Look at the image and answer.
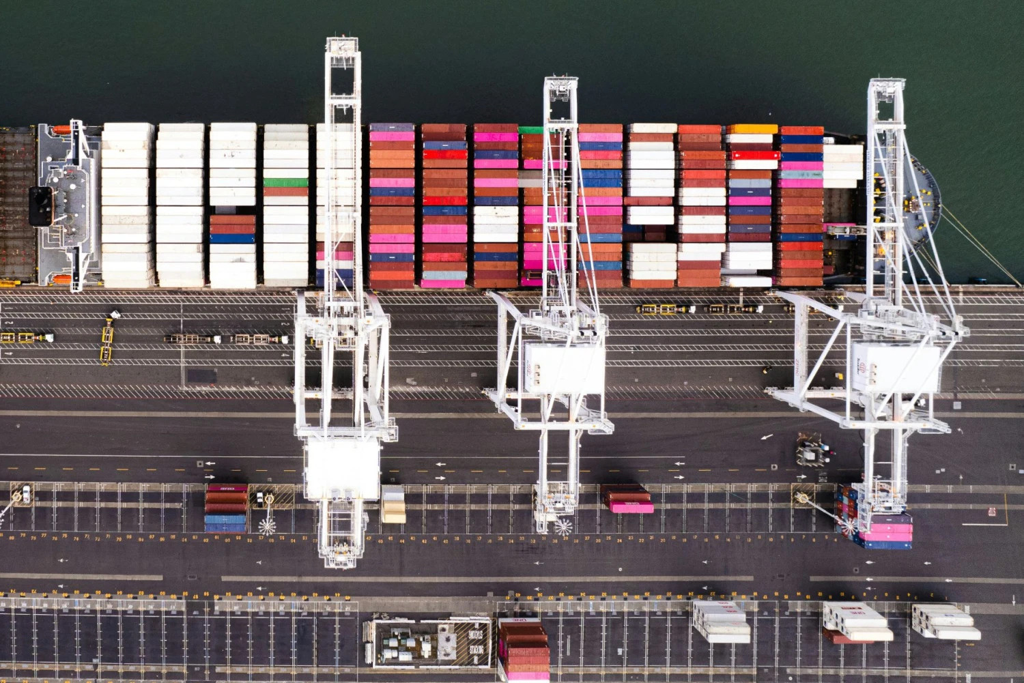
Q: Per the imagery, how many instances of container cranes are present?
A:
3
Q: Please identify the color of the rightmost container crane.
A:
white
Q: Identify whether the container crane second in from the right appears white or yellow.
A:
white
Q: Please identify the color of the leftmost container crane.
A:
white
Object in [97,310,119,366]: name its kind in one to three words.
truck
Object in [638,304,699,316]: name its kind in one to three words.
vehicle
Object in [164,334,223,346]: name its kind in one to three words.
vehicle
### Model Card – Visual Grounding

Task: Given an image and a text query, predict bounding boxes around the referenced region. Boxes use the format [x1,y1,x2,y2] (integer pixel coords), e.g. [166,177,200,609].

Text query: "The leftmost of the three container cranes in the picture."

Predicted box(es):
[287,36,410,565]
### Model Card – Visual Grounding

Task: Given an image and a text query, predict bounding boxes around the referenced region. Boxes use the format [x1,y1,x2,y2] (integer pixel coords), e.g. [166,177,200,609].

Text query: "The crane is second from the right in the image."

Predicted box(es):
[480,76,624,536]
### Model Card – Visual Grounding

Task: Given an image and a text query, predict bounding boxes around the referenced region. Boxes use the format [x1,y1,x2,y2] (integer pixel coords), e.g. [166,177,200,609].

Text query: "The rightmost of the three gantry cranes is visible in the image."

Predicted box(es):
[766,76,970,536]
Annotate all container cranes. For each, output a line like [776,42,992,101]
[287,36,410,565]
[766,76,970,536]
[480,76,624,536]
